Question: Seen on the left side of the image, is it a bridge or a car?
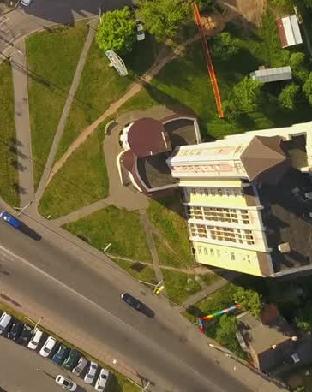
car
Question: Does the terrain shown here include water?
No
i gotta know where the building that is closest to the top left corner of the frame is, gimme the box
[109,117,200,191]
